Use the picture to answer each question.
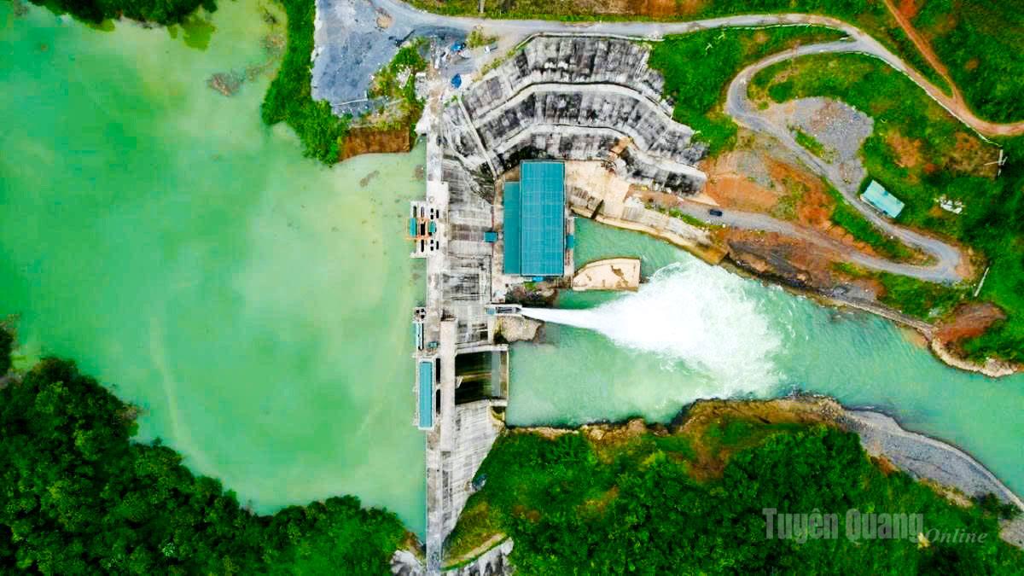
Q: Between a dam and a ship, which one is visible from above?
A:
dam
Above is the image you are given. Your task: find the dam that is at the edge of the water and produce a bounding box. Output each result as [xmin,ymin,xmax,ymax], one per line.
[410,121,508,559]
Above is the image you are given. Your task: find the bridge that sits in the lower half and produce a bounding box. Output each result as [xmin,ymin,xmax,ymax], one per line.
[440,319,457,450]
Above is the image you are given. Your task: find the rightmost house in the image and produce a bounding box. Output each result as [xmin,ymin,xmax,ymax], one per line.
[857,180,904,217]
